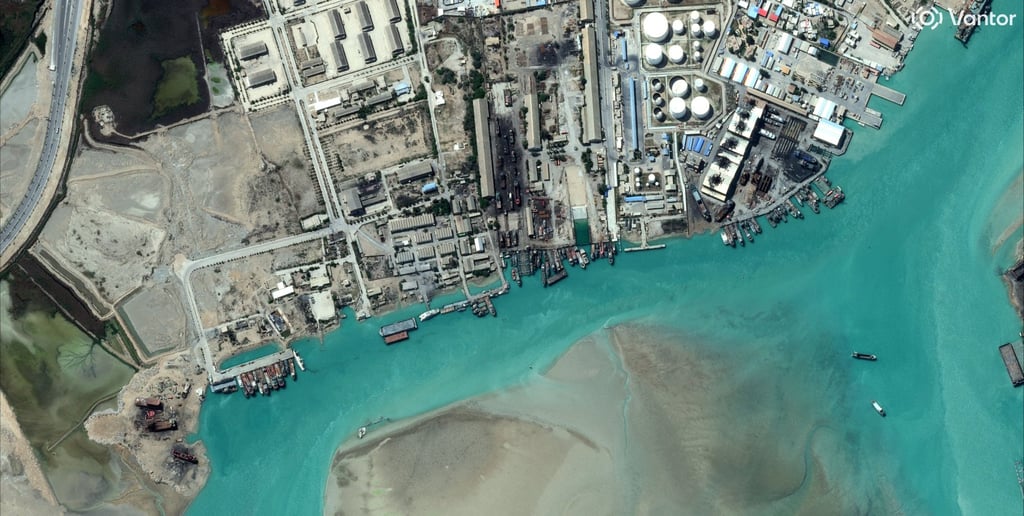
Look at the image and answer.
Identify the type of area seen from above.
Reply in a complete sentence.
This image shows a port.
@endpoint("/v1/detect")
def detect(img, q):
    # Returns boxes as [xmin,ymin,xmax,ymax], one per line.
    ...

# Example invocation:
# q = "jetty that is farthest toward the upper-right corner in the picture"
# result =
[871,83,906,105]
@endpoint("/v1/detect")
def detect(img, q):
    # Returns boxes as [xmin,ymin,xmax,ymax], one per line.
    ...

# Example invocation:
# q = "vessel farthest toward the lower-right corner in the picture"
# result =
[1000,344,1024,384]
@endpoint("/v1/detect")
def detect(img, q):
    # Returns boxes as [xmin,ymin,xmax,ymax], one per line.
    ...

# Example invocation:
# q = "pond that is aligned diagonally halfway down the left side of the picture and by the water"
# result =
[17,258,103,335]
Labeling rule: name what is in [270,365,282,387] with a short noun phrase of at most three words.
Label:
boat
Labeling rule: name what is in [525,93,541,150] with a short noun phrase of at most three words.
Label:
shed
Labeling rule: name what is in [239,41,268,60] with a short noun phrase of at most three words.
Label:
building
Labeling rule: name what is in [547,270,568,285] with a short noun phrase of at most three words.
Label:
ship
